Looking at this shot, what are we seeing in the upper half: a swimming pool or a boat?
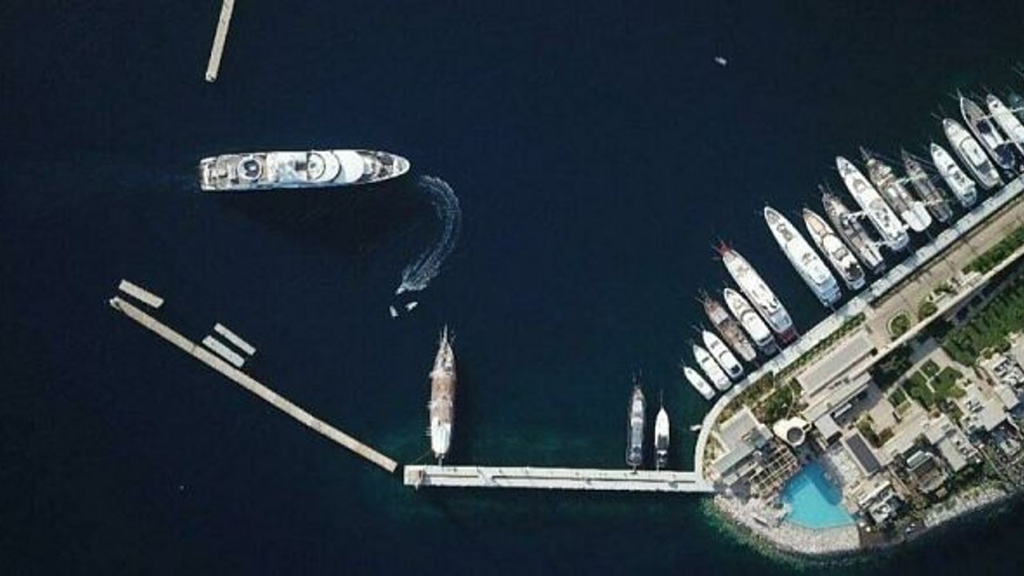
boat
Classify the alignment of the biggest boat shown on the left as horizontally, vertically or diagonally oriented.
horizontally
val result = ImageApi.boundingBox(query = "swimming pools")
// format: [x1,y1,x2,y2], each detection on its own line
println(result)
[783,462,856,530]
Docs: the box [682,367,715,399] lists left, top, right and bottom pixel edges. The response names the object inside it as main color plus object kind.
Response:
white boat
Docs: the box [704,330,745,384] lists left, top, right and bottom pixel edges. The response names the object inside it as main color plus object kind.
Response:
white boat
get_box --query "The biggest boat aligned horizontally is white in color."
[200,149,409,190]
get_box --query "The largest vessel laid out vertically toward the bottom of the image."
[429,322,457,464]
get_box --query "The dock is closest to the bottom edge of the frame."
[404,465,694,493]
